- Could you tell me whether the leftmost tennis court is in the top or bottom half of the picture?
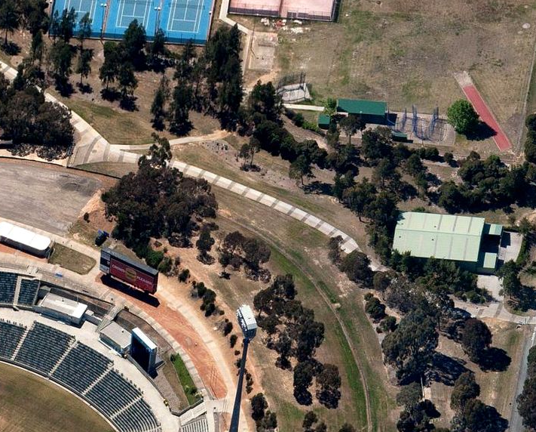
top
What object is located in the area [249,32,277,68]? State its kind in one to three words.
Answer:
basketball court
